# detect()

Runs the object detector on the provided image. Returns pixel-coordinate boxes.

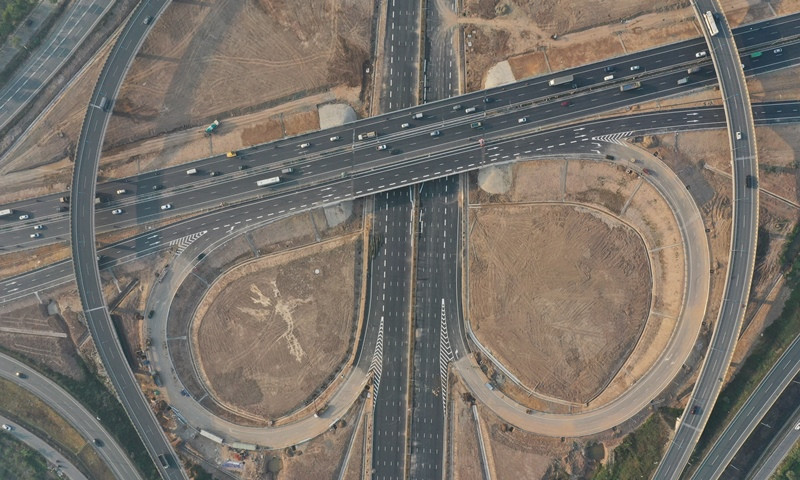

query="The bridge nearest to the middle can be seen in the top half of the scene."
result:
[344,91,490,199]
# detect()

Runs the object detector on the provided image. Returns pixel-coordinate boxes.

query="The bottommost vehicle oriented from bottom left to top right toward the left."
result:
[310,408,327,421]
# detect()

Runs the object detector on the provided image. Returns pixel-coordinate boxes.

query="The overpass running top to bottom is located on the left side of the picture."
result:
[67,0,192,480]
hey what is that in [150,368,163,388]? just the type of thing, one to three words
vehicle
